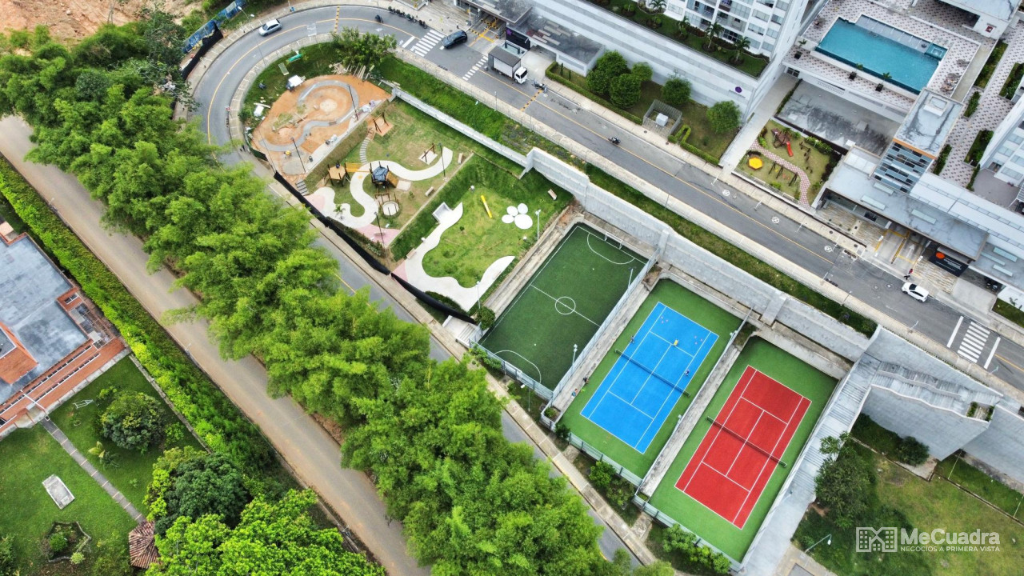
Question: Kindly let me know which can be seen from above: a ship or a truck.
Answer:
truck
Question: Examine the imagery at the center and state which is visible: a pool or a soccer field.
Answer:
soccer field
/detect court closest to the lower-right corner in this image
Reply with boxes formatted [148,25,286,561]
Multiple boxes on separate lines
[644,338,839,571]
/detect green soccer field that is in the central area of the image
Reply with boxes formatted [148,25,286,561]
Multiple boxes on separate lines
[481,225,649,404]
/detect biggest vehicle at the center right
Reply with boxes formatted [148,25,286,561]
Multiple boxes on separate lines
[902,282,932,301]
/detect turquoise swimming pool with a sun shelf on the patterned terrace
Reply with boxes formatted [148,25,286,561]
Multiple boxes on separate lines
[815,14,947,94]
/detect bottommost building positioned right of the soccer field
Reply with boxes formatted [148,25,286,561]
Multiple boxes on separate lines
[822,149,1024,321]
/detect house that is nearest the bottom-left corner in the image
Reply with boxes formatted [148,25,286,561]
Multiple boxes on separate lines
[0,223,129,433]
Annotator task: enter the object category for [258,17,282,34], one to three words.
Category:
car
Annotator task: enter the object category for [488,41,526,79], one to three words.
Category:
truck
